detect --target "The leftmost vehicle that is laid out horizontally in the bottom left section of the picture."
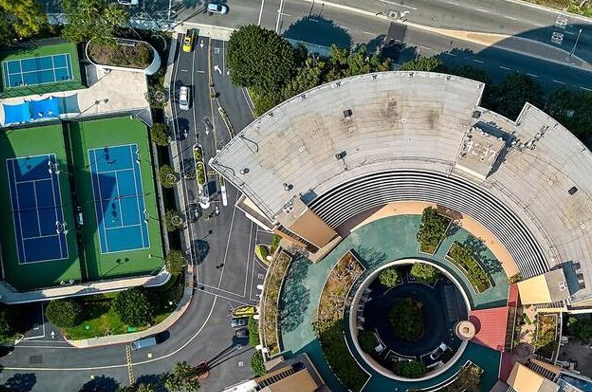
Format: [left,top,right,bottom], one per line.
[132,336,158,349]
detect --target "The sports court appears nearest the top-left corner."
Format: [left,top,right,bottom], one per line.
[0,41,83,93]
